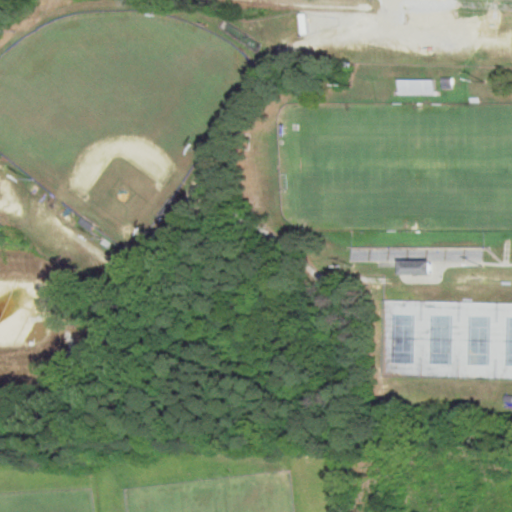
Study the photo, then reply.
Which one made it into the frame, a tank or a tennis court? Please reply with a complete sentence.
Looking from above, you can make out a tennis court.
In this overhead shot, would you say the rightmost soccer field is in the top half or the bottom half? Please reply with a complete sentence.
The rightmost soccer field is in the top half of the image.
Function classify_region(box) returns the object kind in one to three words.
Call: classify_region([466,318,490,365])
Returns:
tennis court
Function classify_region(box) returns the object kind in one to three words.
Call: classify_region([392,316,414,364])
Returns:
tennis court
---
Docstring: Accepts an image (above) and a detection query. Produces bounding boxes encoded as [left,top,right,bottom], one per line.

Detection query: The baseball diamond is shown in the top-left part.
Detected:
[0,10,247,250]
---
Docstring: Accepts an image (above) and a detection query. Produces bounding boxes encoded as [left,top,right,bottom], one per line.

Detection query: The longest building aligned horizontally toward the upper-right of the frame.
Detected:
[396,78,436,94]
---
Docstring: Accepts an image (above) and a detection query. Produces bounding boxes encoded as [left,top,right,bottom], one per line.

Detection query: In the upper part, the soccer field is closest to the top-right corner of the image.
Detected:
[279,104,512,230]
